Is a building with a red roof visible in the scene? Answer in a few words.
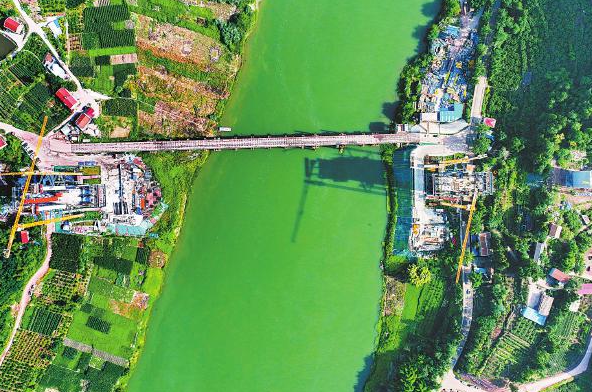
Yes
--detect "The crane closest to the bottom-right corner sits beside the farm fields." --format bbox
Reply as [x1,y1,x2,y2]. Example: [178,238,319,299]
[428,189,480,286]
